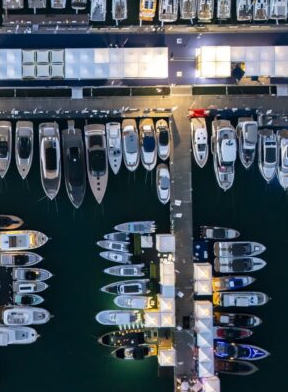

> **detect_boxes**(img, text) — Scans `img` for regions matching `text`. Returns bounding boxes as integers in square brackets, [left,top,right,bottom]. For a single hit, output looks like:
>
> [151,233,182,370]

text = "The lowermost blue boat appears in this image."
[214,339,280,362]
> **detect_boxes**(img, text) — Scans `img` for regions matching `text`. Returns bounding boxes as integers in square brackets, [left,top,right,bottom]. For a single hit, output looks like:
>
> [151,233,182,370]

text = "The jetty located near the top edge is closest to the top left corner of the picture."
[2,12,89,25]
